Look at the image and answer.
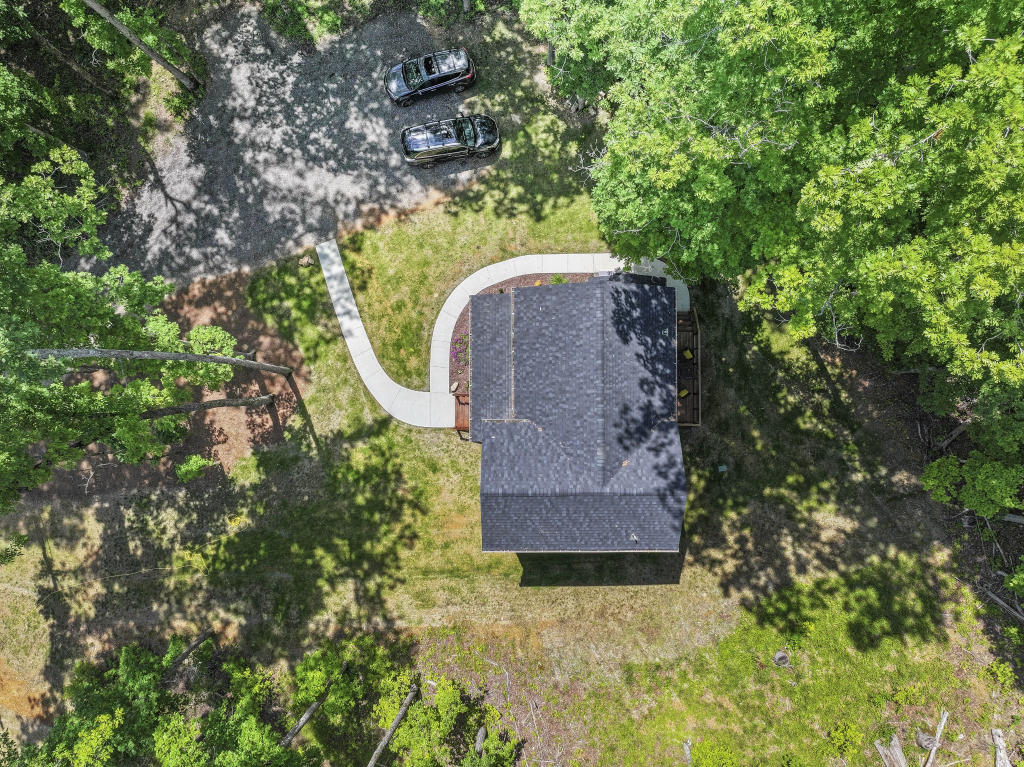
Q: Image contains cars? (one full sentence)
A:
Yes, a car can be made out from above.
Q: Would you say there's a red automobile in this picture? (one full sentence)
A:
No, no red automobile can be seen from above.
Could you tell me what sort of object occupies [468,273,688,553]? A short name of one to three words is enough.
house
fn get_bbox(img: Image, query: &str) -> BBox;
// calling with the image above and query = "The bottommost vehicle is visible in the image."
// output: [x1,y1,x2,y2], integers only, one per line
[402,112,502,170]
